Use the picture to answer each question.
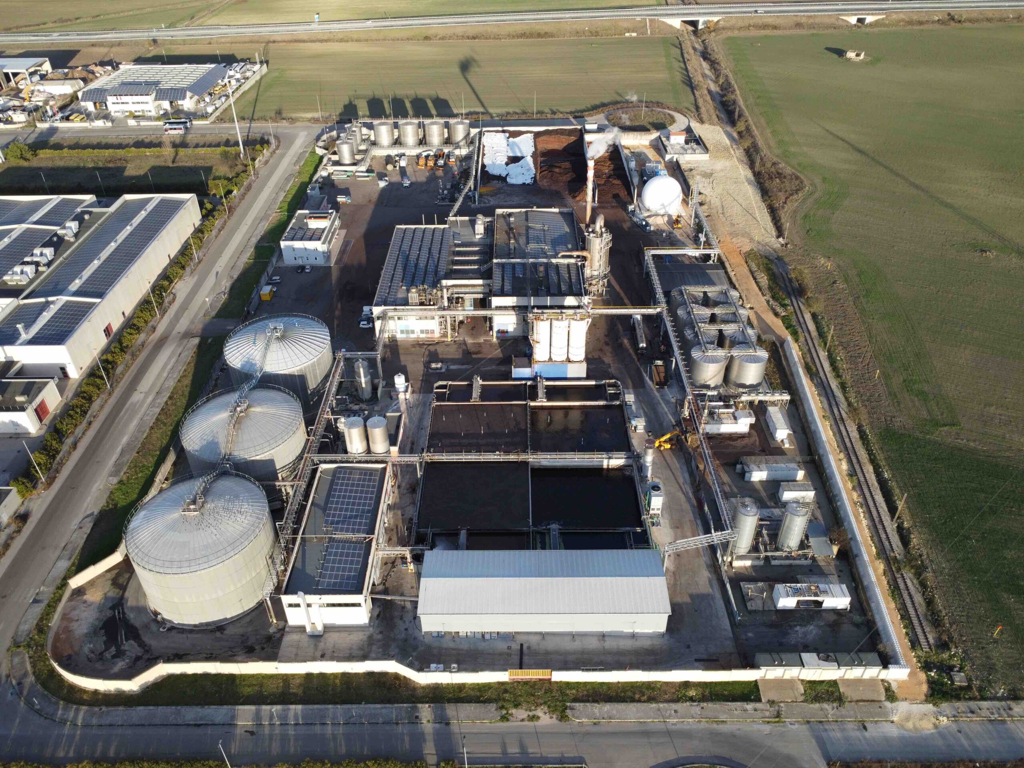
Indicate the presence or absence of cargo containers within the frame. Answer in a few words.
Yes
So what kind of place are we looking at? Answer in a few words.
industrial area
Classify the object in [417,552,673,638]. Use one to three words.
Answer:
shed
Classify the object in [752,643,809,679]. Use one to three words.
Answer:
building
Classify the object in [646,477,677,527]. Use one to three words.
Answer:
cooling tower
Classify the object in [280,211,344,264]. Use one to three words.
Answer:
building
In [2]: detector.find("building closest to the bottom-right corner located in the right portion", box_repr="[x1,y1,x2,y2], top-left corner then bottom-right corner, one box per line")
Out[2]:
[833,643,891,679]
